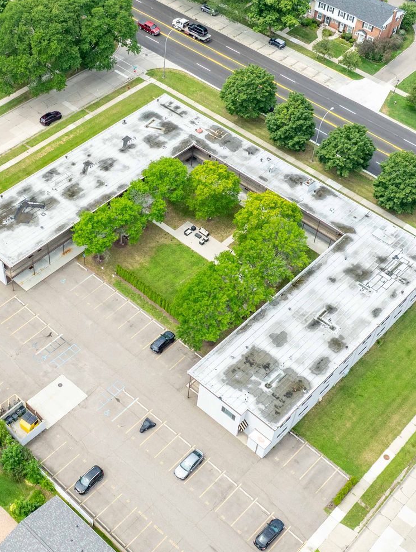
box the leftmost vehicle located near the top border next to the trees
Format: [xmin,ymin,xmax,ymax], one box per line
[140,20,160,36]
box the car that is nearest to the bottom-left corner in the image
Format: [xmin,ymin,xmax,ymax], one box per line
[71,464,106,495]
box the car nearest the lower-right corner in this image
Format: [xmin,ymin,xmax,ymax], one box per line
[254,517,286,551]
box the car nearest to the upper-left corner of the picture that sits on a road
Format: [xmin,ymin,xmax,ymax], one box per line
[39,111,63,127]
